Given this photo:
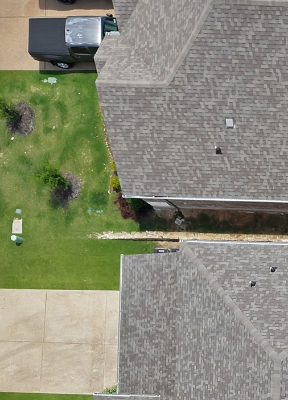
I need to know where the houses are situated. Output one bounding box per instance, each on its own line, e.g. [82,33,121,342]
[91,238,288,400]
[93,0,288,218]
